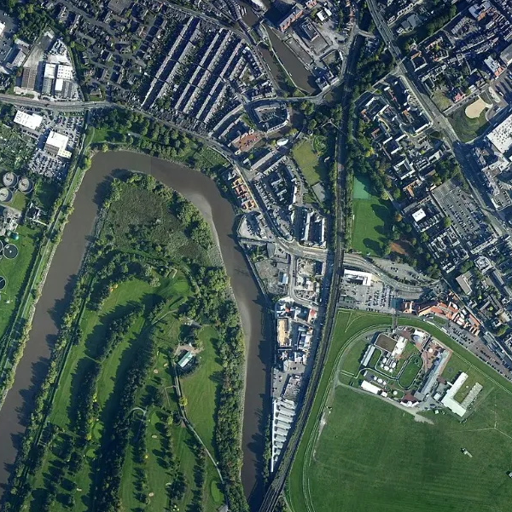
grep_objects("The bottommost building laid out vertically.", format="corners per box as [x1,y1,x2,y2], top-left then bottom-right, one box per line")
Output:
[270,400,295,471]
